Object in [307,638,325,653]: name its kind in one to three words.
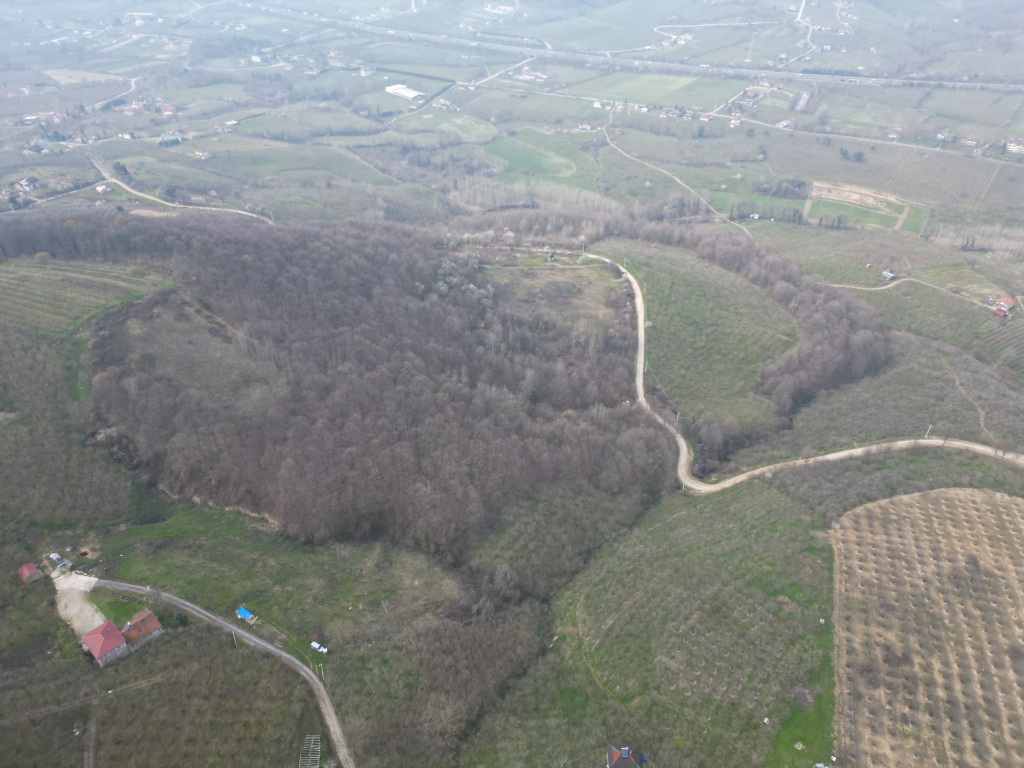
vehicle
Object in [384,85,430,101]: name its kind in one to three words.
building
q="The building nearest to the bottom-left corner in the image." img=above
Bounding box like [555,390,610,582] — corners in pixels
[79,620,128,664]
